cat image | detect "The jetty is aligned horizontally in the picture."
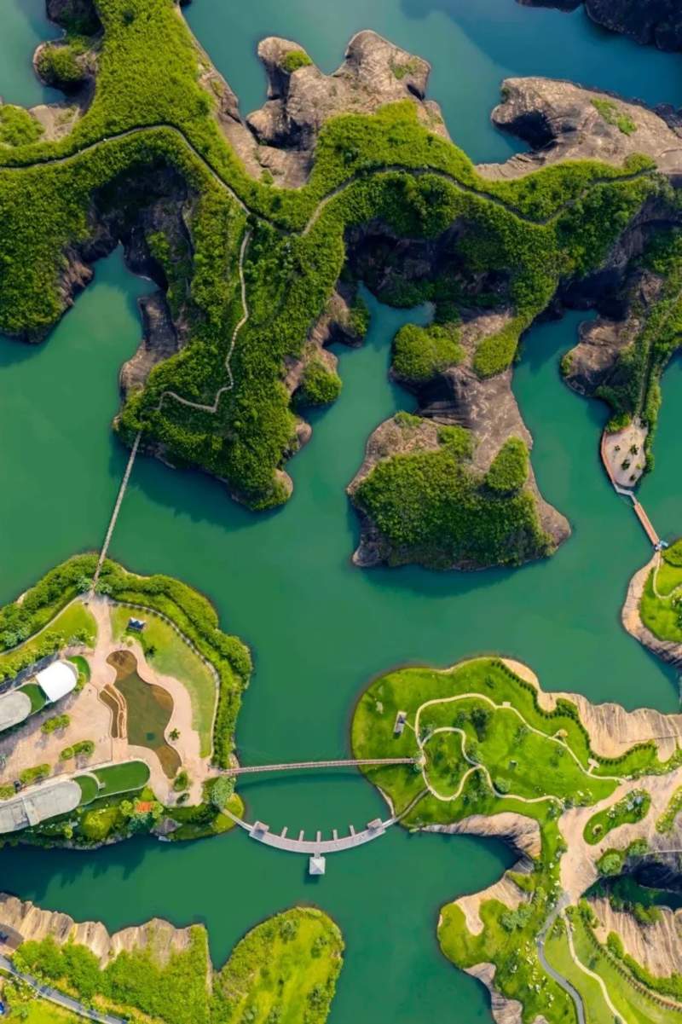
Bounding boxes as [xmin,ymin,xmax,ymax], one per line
[222,808,398,857]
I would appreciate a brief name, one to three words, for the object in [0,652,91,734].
building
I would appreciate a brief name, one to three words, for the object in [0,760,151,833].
building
